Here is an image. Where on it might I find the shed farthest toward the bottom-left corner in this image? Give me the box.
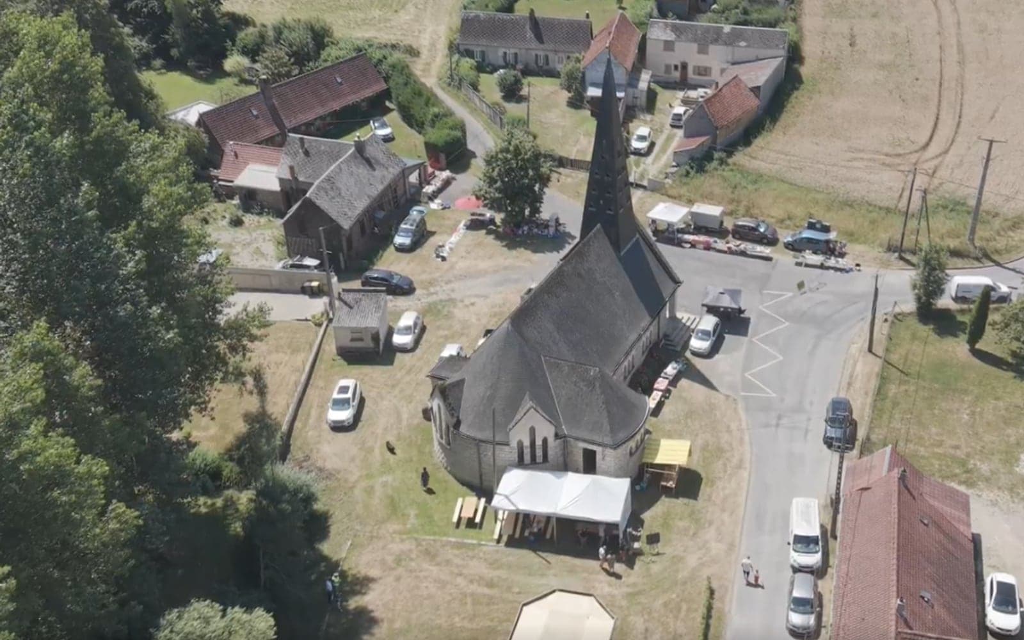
[330,286,390,354]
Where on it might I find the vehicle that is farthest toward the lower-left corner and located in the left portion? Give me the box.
[324,377,360,425]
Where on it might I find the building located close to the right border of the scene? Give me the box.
[826,440,981,640]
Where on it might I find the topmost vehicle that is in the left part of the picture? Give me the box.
[371,115,394,137]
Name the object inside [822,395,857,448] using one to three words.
car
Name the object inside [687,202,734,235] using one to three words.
trailer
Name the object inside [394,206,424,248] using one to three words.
car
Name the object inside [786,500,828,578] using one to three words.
van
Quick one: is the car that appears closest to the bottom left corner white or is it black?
white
